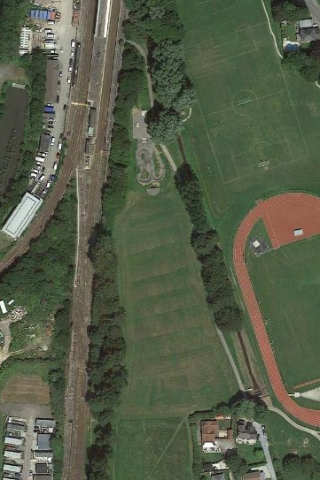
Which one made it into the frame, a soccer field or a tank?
soccer field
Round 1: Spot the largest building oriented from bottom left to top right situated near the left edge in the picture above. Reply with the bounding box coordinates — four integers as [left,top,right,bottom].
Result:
[1,192,42,239]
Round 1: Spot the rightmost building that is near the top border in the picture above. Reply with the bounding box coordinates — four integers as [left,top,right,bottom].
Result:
[300,19,320,43]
